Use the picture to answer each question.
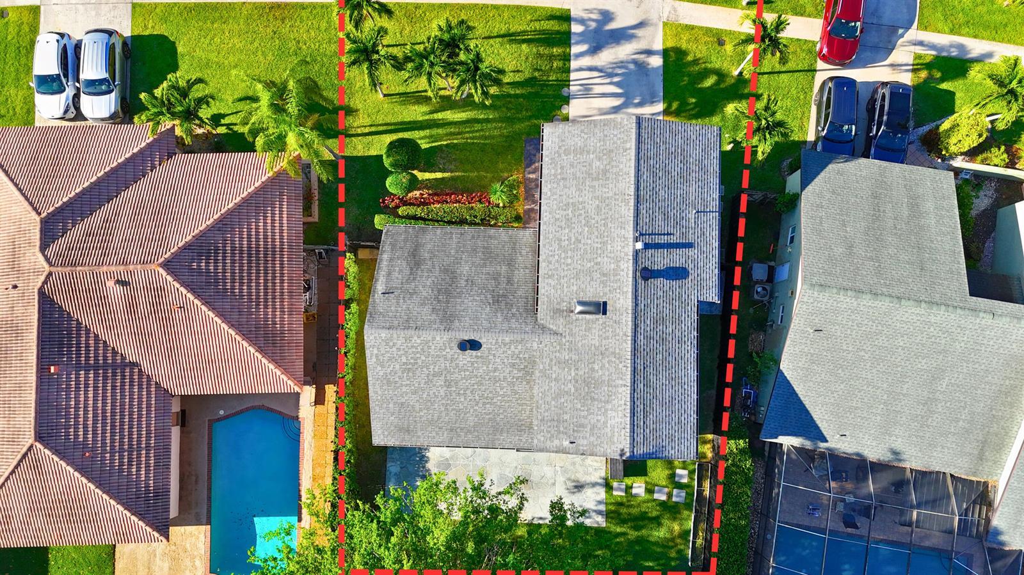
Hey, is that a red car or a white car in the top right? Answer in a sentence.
You can see a red car in the top right.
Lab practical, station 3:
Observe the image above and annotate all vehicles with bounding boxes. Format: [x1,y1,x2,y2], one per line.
[810,77,860,158]
[859,80,913,165]
[76,31,131,123]
[815,0,867,66]
[32,35,83,121]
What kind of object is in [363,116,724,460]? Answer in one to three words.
house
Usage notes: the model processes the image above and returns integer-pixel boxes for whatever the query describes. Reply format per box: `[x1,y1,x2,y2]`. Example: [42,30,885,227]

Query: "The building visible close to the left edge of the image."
[0,124,308,551]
